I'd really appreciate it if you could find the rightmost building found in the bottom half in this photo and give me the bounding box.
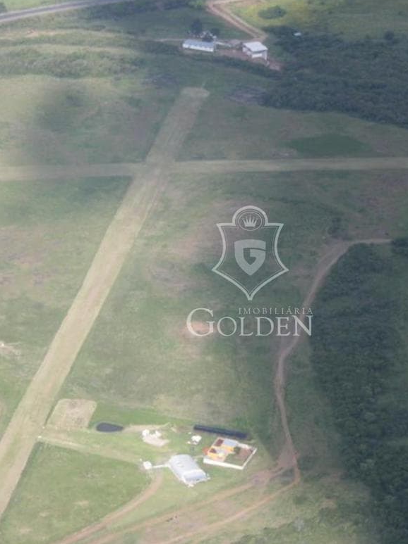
[206,438,251,463]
